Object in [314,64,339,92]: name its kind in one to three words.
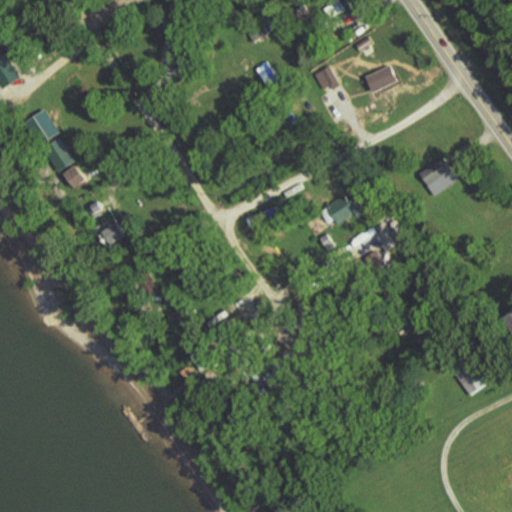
barn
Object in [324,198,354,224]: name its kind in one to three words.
house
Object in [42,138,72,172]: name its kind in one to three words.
house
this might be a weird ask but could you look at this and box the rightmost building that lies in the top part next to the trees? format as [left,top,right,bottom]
[417,158,457,196]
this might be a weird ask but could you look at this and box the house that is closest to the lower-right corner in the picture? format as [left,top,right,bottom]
[456,367,489,400]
